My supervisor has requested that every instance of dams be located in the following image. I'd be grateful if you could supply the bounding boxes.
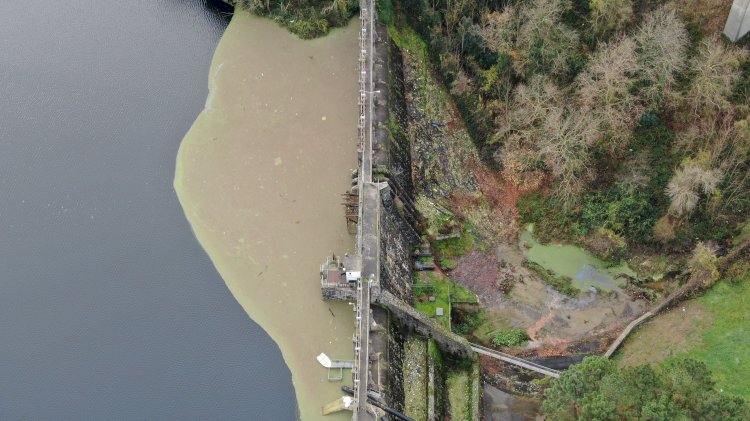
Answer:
[349,0,428,421]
